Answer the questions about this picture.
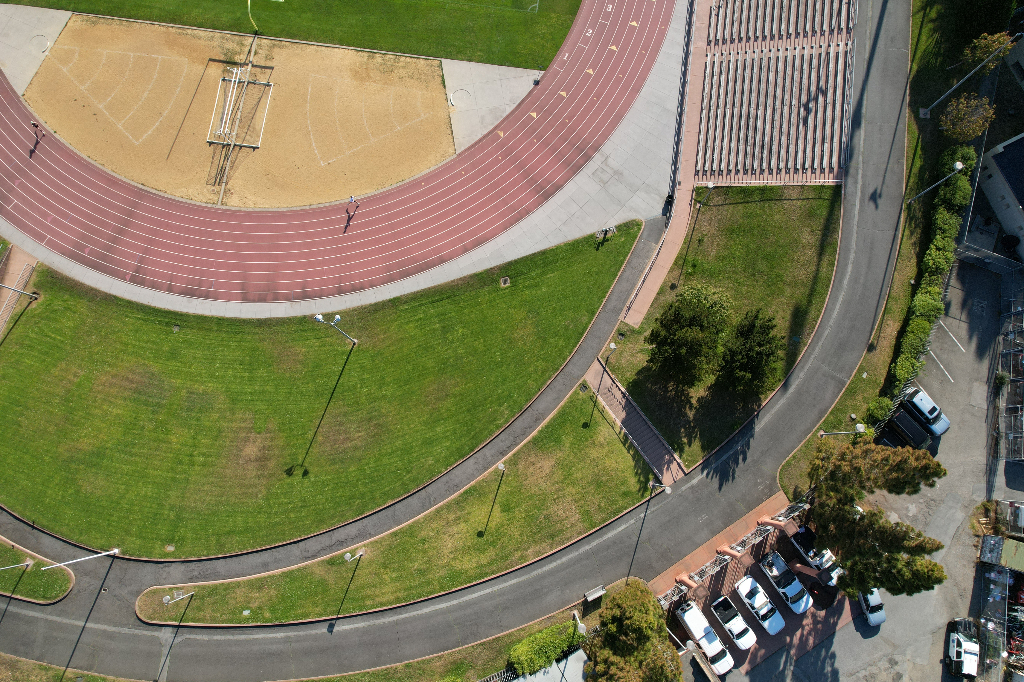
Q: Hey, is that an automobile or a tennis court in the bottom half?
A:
automobile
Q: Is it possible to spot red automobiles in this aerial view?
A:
No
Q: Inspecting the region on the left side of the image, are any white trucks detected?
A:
No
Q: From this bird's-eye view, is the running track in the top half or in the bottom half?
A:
top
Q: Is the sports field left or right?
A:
left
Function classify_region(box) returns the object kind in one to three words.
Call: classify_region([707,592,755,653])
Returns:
truck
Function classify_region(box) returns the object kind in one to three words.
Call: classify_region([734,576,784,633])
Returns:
car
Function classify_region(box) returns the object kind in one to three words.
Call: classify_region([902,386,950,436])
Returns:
car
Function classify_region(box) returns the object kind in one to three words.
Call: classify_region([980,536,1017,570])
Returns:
shed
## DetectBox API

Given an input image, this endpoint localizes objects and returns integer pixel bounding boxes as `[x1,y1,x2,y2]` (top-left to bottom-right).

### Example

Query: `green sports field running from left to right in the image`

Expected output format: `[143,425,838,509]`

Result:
[0,0,576,70]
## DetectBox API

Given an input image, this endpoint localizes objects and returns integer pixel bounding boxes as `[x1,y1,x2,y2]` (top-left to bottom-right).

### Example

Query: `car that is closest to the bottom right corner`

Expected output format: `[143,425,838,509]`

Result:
[943,617,980,679]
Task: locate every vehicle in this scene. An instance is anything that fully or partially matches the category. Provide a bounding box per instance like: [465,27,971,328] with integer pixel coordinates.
[792,522,843,582]
[884,402,929,452]
[707,592,755,653]
[759,552,812,613]
[902,386,950,436]
[943,617,980,679]
[676,601,732,673]
[734,576,784,633]
[852,576,887,629]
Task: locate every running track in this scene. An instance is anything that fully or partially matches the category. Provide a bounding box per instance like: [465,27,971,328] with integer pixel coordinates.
[0,0,674,304]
